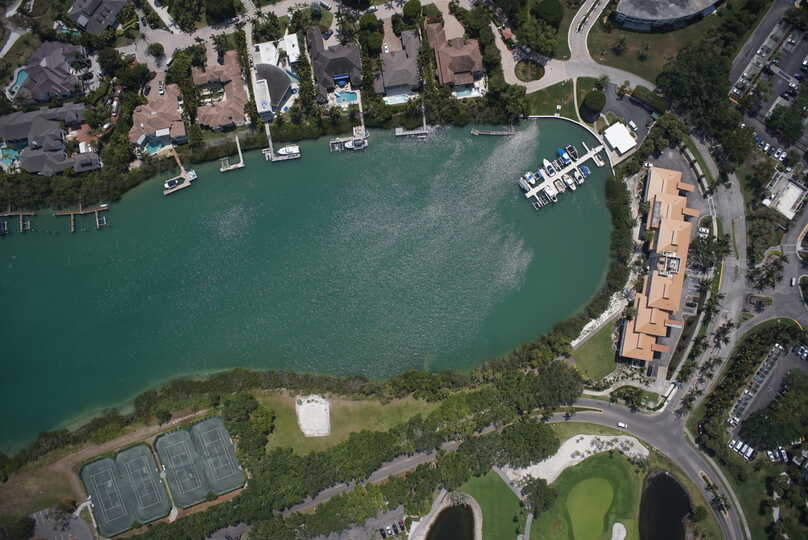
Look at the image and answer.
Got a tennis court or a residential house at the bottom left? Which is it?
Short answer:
tennis court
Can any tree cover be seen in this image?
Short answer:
Yes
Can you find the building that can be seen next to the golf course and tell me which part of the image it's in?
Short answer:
right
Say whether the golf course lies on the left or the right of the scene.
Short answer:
right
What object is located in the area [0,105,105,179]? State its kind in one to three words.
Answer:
house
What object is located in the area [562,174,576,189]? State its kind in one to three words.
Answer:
boat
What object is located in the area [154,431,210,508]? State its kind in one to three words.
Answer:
tennis court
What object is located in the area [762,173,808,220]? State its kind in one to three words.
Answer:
building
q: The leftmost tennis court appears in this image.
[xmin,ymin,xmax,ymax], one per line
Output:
[81,459,139,537]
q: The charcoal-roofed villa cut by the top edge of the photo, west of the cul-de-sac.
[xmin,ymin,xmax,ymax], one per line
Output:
[64,0,140,36]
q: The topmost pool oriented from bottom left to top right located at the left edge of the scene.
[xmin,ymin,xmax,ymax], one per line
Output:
[10,69,28,92]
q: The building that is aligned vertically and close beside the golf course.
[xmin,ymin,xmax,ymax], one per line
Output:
[617,167,700,361]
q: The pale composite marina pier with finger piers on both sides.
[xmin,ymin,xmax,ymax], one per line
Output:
[522,141,604,207]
